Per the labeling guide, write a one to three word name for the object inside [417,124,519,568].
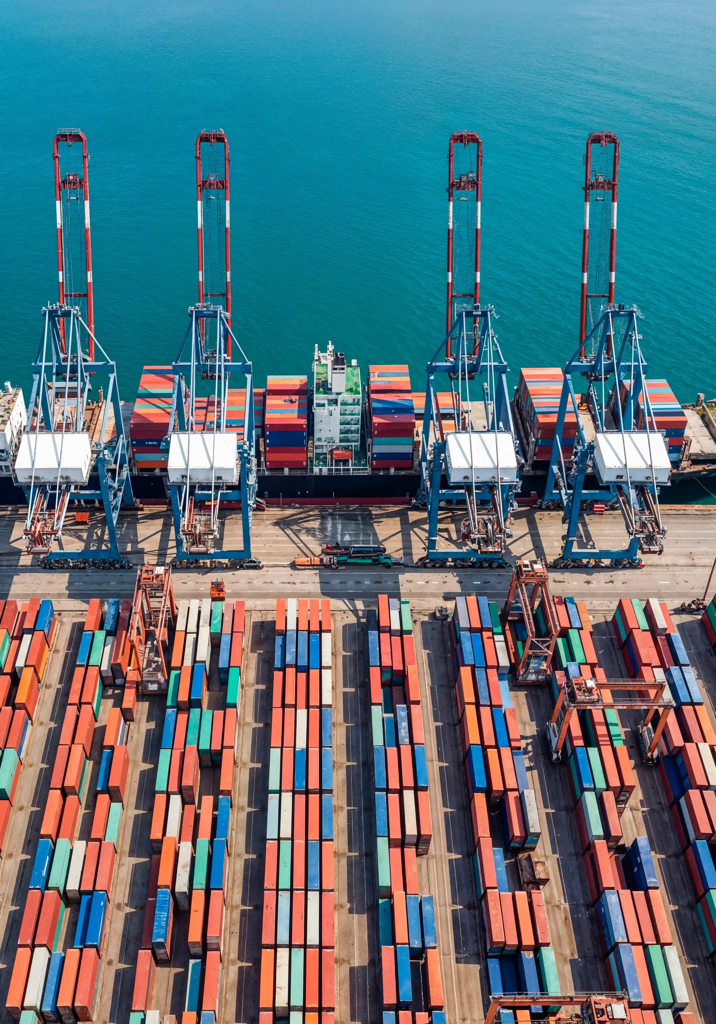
container crane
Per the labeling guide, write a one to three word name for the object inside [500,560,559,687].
container crane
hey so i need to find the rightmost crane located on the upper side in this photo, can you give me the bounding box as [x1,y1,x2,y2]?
[548,124,671,568]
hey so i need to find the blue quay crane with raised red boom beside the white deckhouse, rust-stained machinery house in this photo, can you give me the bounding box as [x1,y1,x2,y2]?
[14,124,133,568]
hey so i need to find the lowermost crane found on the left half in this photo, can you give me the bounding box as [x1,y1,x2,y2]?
[127,568,181,696]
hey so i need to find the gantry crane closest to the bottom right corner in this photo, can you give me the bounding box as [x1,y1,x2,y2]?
[486,987,635,1024]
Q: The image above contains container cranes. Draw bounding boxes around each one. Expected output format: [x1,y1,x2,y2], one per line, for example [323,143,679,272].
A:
[14,124,133,568]
[548,124,671,568]
[127,568,181,696]
[546,670,673,764]
[163,124,262,568]
[500,560,559,687]
[486,987,635,1024]
[417,124,519,568]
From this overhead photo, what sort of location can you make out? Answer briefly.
port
